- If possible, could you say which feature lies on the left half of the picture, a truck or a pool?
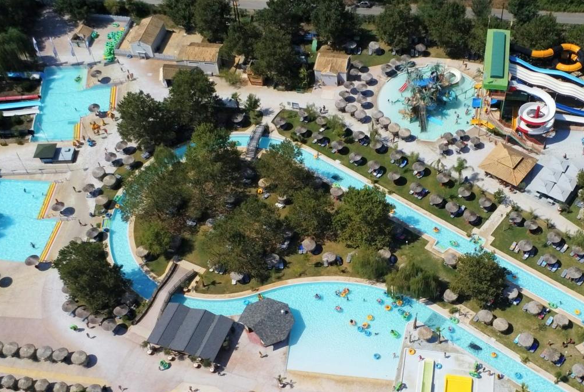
pool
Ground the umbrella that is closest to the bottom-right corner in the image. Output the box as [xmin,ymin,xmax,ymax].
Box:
[570,363,584,378]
